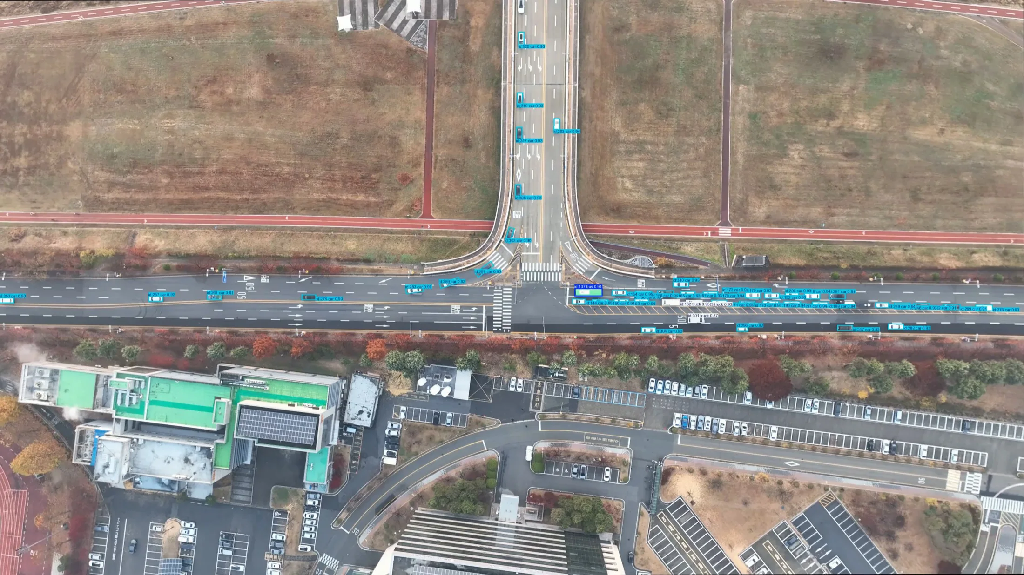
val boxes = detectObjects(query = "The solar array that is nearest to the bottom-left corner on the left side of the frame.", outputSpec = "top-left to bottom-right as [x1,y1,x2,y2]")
[237,409,317,444]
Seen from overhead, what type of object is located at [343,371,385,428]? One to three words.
building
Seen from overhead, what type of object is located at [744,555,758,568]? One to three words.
vehicle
